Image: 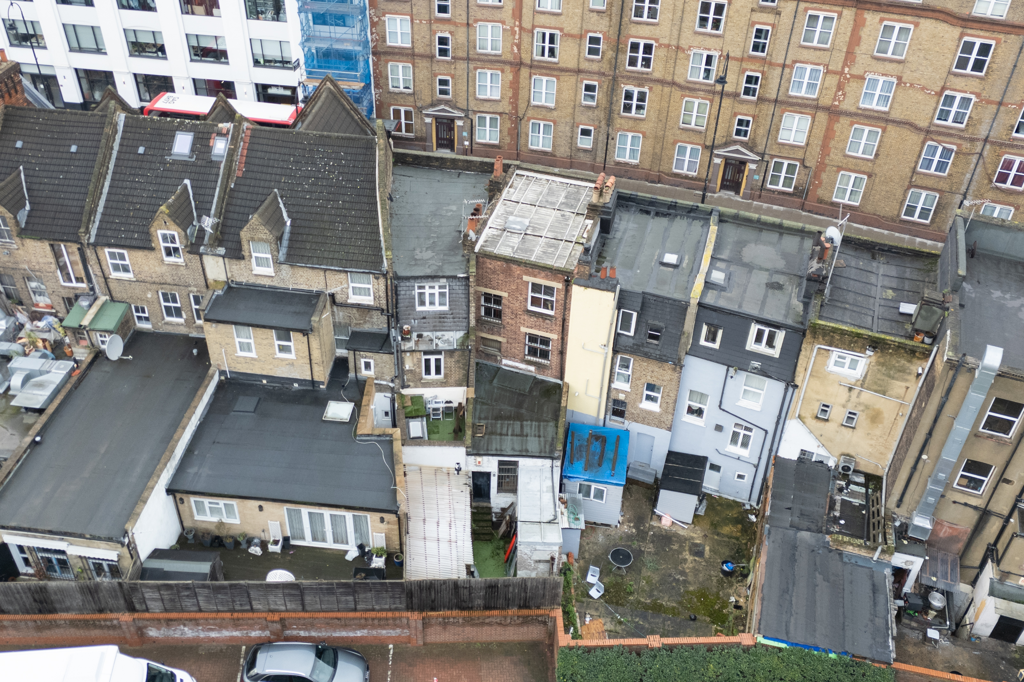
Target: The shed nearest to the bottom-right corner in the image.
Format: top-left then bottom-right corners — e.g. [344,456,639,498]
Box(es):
[967,573,1024,648]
